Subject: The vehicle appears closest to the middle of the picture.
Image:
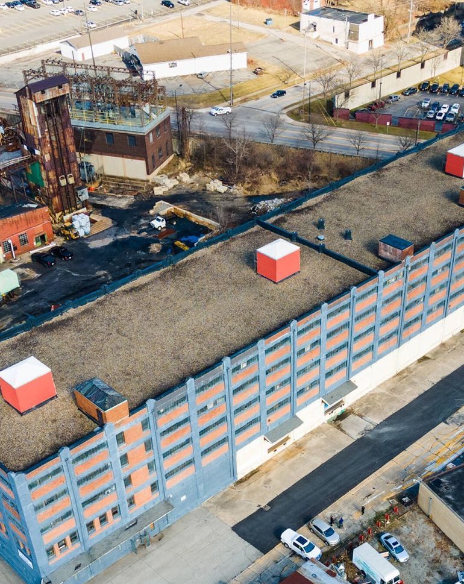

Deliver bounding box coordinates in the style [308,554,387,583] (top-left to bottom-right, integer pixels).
[150,216,178,230]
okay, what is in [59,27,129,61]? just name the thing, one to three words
shed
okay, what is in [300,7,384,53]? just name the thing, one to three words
building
